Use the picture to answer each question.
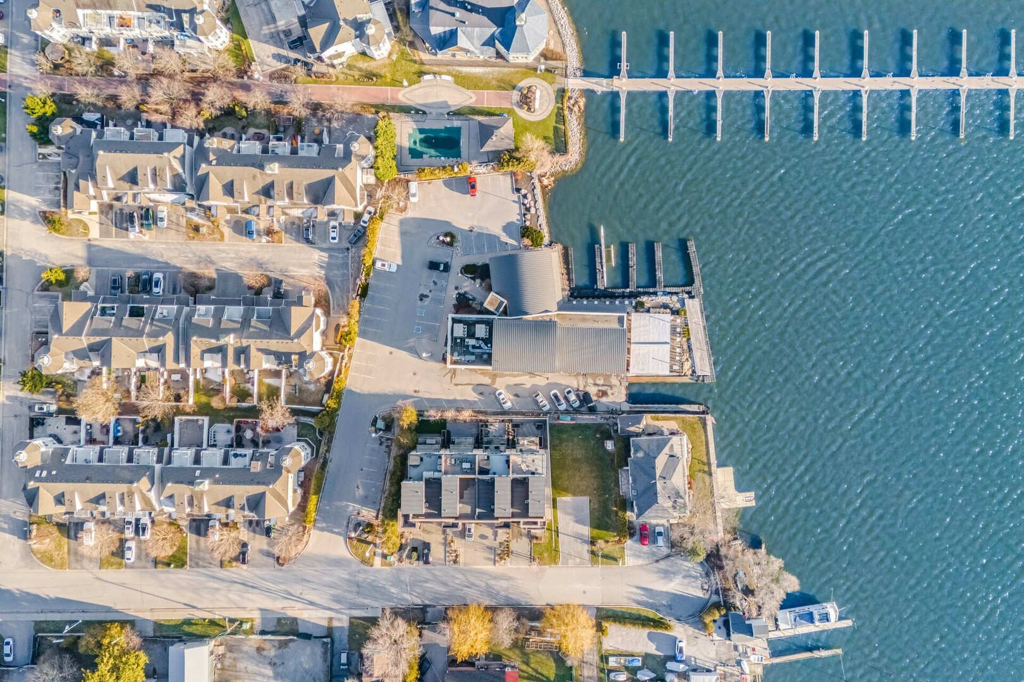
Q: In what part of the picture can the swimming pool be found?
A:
top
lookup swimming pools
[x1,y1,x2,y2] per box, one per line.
[400,121,468,165]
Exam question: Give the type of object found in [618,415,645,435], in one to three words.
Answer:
shed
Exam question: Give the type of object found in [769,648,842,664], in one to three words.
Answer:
pier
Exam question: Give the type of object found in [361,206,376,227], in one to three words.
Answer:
car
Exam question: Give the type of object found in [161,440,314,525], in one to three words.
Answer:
house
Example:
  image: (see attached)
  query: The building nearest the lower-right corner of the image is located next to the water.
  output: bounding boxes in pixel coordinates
[725,608,769,643]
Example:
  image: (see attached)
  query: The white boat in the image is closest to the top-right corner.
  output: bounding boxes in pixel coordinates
[602,226,614,287]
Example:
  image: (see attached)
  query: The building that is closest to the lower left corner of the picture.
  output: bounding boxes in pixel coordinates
[168,637,218,682]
